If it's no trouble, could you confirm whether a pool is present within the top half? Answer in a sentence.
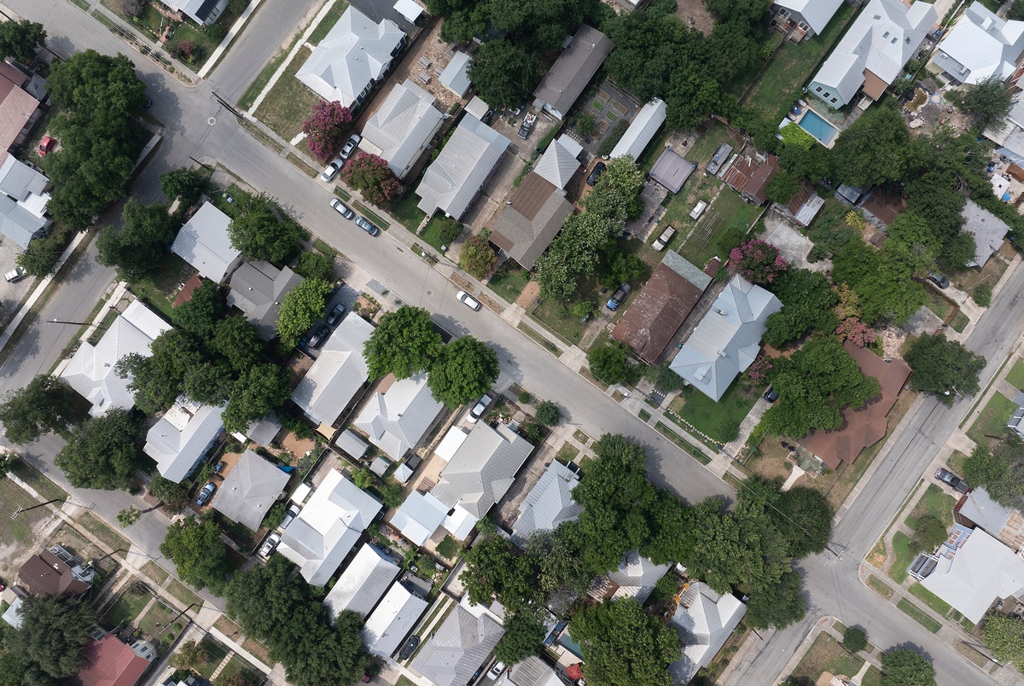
Yes, a pool is visible within the top half.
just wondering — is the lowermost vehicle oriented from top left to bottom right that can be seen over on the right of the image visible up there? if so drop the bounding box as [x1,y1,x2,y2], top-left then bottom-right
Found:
[935,467,967,493]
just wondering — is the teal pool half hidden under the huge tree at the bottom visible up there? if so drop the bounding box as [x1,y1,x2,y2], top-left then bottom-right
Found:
[556,633,589,668]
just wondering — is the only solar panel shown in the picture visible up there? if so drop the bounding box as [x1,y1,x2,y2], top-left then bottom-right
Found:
[195,0,218,20]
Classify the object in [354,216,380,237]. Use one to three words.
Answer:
car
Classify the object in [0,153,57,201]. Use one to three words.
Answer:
house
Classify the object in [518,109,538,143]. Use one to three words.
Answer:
vehicle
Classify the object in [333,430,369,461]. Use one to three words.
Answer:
shed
